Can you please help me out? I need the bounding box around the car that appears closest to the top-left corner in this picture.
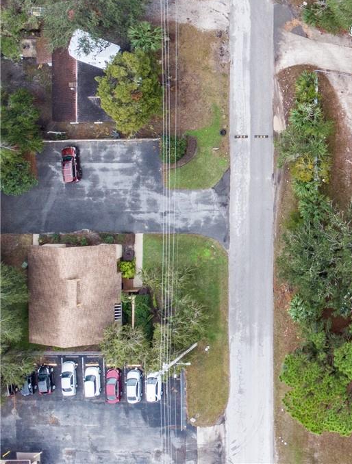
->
[60,146,82,184]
